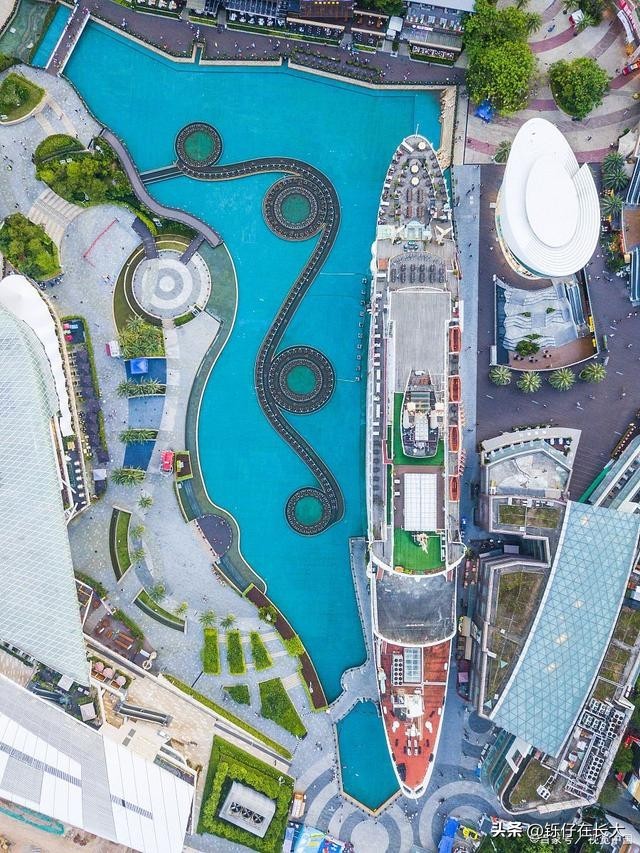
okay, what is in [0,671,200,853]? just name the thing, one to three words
building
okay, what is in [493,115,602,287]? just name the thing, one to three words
building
